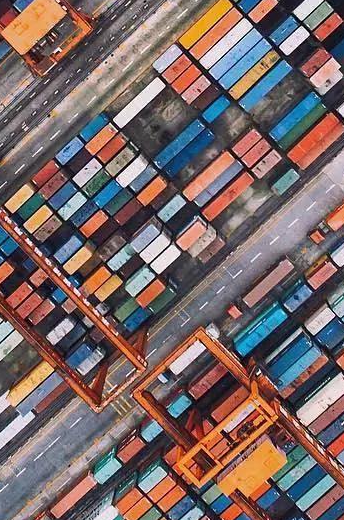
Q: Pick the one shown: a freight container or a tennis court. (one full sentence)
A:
The image shows a freight container.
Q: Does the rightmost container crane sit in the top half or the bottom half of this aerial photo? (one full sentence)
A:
You can find the rightmost container crane in the bottom half.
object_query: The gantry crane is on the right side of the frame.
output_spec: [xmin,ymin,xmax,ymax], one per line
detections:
[129,322,344,520]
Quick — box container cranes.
[0,200,159,417]
[129,322,344,520]
[0,0,101,80]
